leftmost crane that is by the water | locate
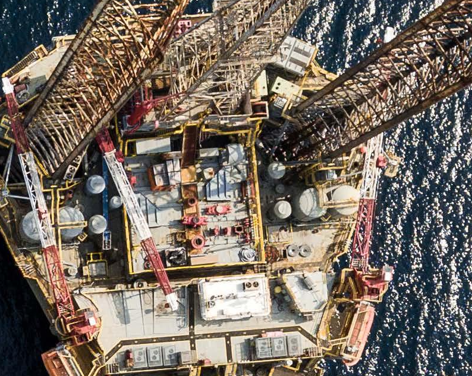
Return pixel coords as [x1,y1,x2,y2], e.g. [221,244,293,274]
[0,73,101,347]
